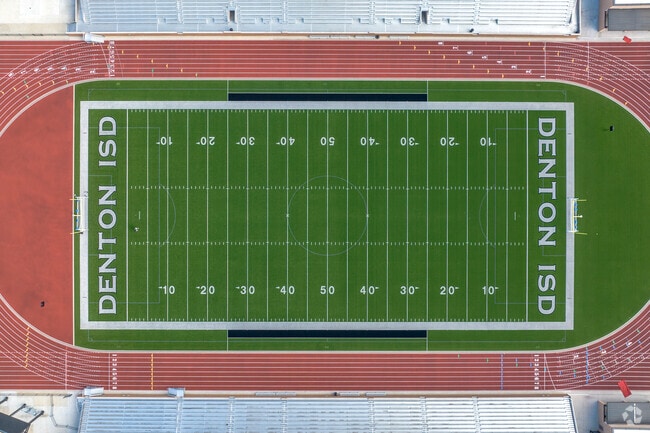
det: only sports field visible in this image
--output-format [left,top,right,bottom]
[75,80,650,352]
